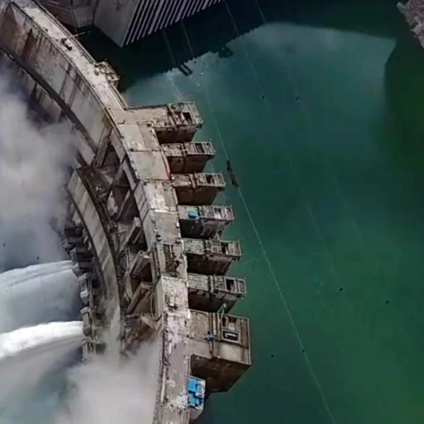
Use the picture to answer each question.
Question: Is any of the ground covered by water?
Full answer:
Yes, the picture does contain water.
